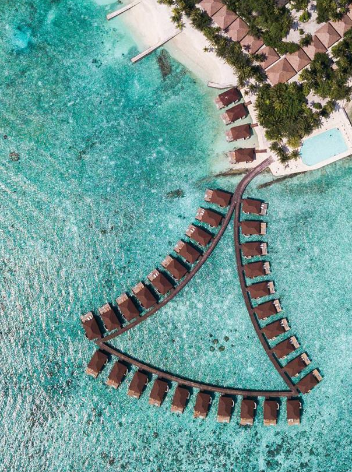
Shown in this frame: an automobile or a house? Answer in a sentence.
This aerial view contains a house.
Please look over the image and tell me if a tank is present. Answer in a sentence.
No, the scene contains no tank.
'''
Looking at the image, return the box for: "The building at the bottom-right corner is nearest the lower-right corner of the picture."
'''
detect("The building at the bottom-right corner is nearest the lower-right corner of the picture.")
[286,398,303,425]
